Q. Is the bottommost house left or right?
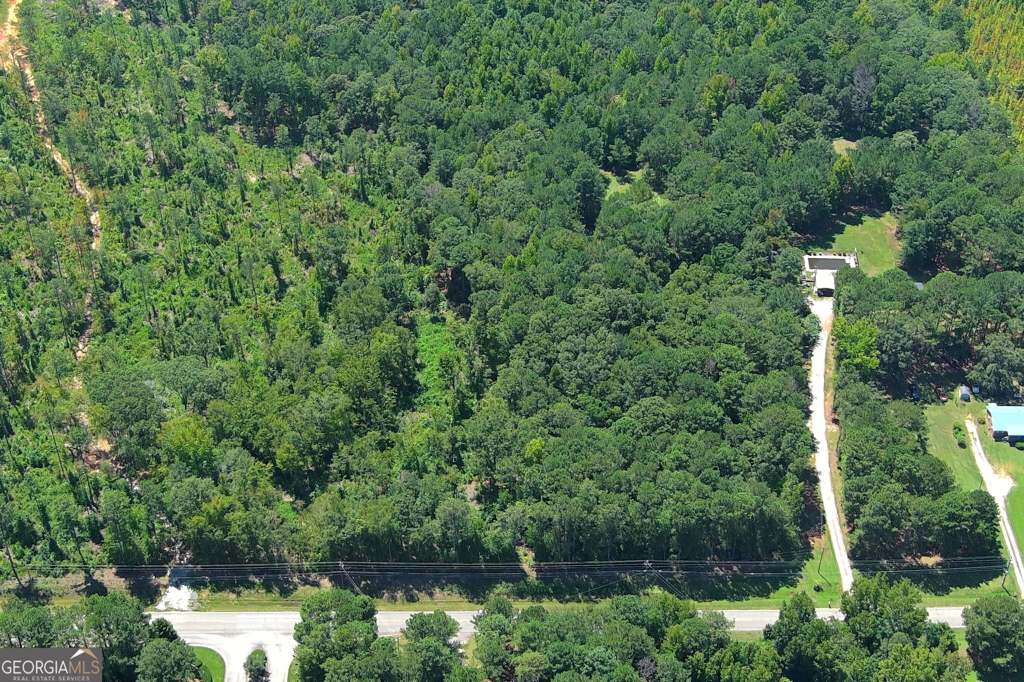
right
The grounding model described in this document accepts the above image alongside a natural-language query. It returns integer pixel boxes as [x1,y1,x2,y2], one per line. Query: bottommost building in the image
[986,407,1024,449]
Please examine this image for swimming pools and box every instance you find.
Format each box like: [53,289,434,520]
[804,255,856,272]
